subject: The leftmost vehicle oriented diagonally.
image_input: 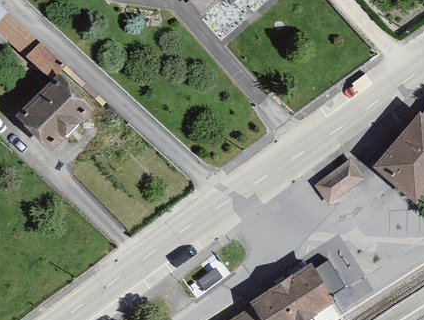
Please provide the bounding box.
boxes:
[7,132,28,152]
